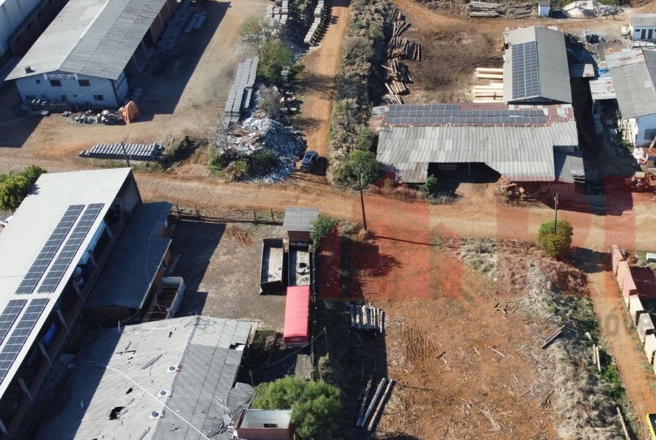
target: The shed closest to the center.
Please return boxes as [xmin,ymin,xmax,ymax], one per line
[282,209,318,246]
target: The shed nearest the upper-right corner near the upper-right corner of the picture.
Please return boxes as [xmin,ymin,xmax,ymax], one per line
[631,17,656,37]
